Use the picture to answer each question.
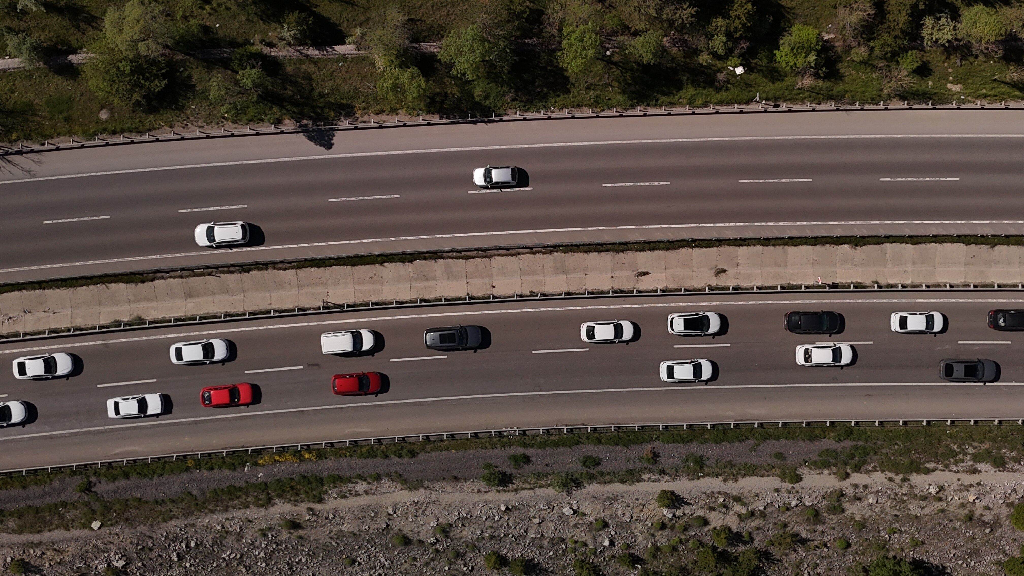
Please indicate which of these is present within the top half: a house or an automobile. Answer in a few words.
automobile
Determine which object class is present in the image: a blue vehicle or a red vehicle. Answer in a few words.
red vehicle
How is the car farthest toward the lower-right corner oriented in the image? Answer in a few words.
from side to side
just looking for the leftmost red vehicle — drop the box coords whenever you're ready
[201,382,254,408]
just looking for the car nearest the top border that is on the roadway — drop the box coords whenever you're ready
[473,164,518,189]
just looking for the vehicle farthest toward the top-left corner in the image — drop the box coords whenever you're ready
[195,220,250,247]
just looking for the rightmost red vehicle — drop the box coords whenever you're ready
[332,371,381,396]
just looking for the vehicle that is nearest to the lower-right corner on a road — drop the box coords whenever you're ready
[938,357,995,384]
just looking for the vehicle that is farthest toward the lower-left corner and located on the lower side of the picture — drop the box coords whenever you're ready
[0,399,29,426]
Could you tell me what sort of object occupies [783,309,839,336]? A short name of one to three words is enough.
car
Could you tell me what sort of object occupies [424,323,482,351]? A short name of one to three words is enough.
car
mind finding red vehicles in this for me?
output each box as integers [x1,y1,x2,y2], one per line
[332,371,381,396]
[201,382,254,408]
